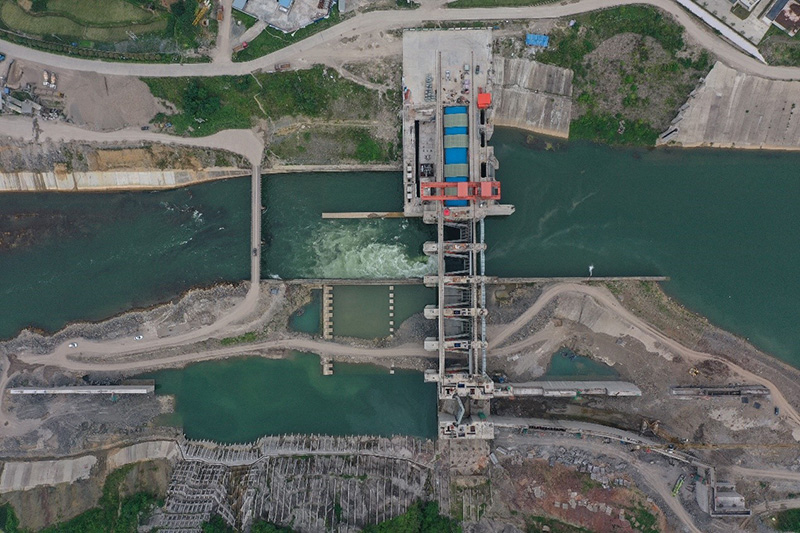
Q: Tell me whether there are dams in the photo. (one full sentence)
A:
Yes, the picture does show a dam.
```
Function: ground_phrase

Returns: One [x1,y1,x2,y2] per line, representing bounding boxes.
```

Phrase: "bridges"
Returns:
[251,166,267,285]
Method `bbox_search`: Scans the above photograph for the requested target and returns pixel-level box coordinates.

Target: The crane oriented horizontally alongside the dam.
[421,177,501,206]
